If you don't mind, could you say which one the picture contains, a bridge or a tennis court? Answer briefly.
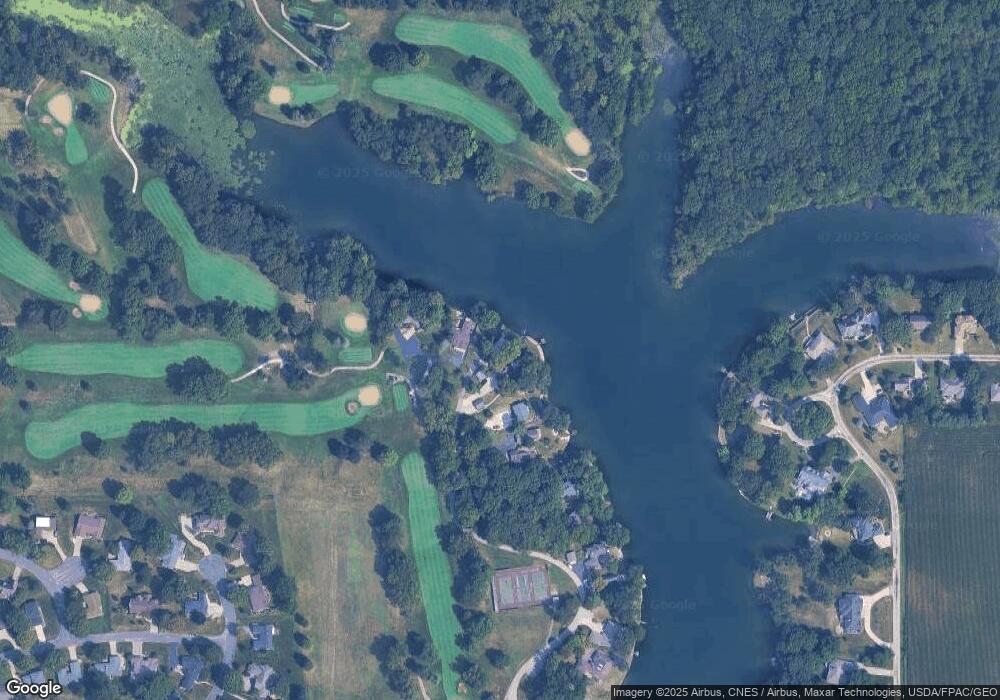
tennis court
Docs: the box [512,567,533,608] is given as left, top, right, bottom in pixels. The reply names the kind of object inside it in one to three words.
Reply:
tennis court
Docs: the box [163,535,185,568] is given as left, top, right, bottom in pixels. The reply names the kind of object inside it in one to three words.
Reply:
house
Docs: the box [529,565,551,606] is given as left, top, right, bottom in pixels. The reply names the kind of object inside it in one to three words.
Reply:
tennis court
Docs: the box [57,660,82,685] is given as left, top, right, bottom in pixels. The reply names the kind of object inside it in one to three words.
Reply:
house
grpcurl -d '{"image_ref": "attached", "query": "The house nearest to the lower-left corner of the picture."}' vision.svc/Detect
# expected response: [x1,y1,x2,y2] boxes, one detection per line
[21,670,47,689]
